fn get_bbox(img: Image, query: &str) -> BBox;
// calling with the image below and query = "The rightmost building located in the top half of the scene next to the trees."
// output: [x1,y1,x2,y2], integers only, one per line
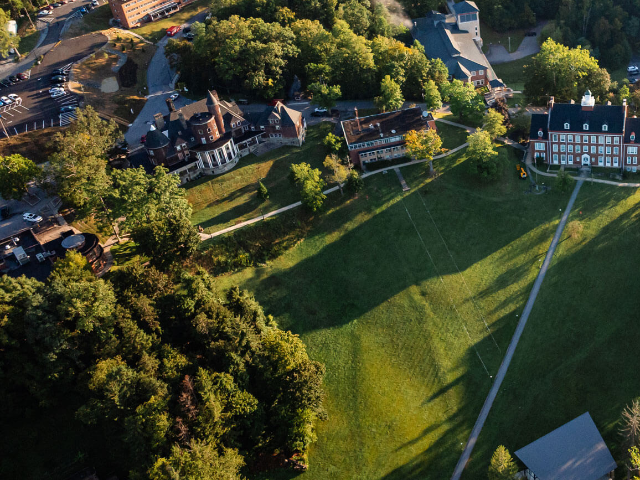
[531,86,640,174]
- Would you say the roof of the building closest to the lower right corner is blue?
Yes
